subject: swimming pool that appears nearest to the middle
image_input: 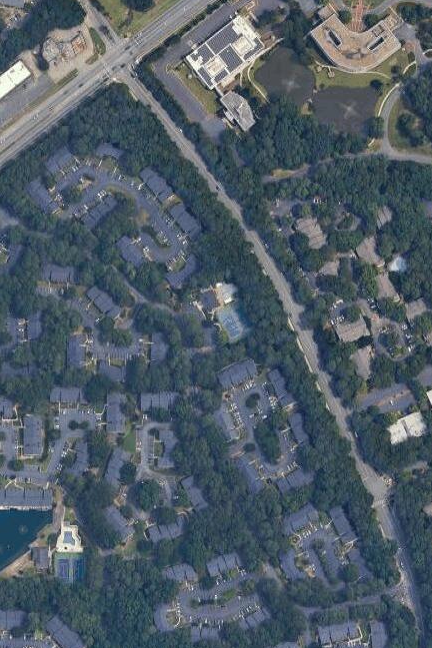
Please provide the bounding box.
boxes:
[216,283,237,303]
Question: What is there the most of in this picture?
trees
